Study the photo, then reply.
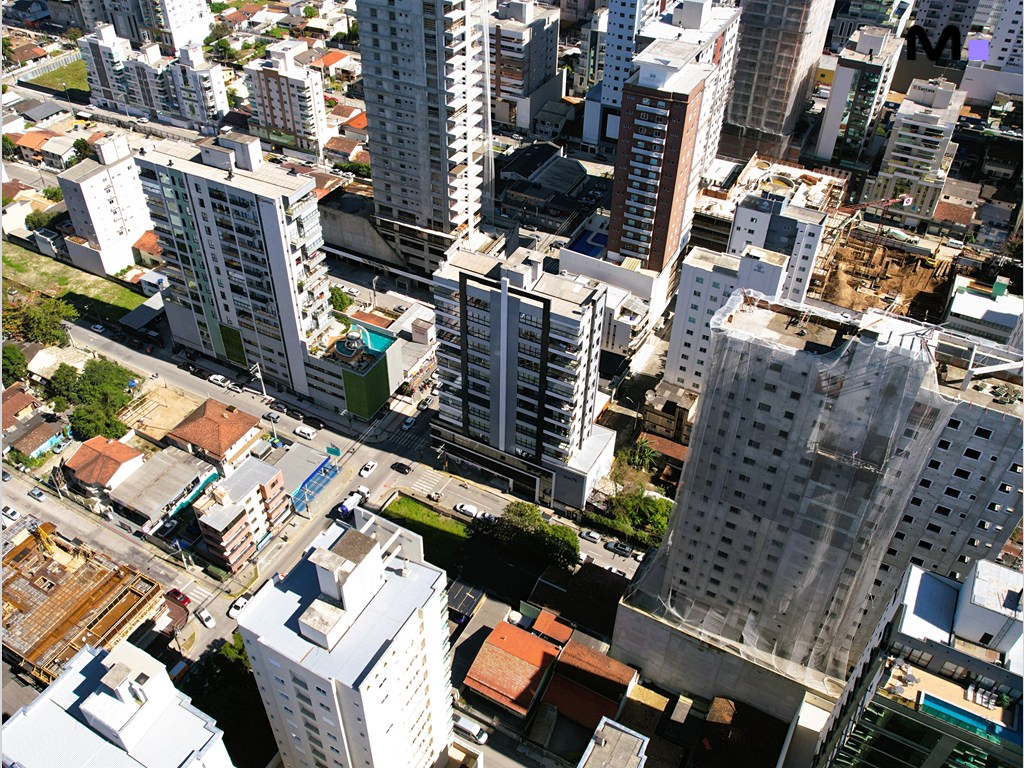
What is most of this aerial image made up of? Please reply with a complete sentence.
What you mostly see from above here is buildings.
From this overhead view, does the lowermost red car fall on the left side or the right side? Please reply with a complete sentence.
The lowermost red car is on the left side of the image.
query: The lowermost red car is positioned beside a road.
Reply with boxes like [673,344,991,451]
[170,587,193,609]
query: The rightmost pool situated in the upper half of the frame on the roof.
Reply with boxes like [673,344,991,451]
[569,238,605,261]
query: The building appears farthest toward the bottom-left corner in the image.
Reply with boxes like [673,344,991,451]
[0,641,245,768]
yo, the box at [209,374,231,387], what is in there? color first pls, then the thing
white vehicle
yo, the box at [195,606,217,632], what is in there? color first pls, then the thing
white car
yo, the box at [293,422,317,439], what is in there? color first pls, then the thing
white car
